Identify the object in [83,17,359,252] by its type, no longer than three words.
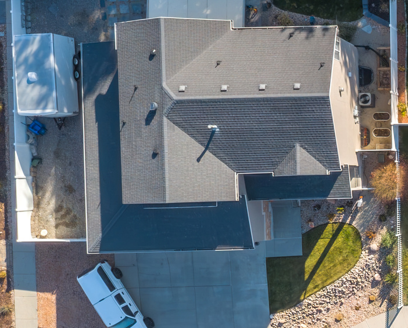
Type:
house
